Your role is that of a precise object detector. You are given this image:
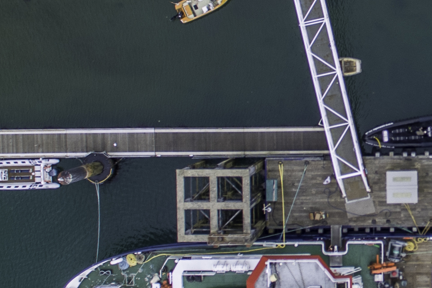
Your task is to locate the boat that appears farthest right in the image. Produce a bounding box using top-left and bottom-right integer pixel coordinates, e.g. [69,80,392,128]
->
[363,115,432,149]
